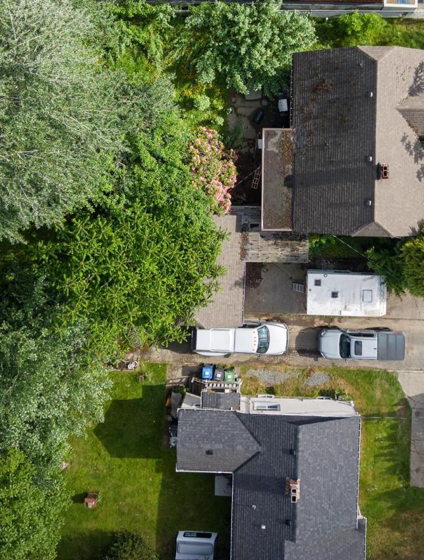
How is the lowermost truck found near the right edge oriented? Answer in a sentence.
What the image shows is the lowermost truck found near the right edge lying horizontally.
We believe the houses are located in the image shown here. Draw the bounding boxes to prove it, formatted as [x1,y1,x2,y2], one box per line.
[173,377,369,560]
[261,42,424,242]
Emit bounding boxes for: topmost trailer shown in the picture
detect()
[304,269,397,315]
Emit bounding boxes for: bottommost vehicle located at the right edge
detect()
[316,324,404,364]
